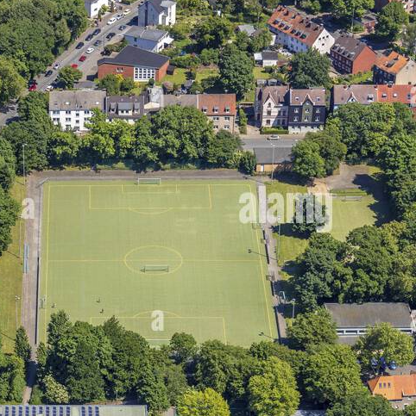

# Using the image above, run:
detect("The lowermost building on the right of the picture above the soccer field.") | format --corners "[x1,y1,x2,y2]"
[252,145,293,171]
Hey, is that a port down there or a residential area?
residential area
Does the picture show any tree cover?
Yes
